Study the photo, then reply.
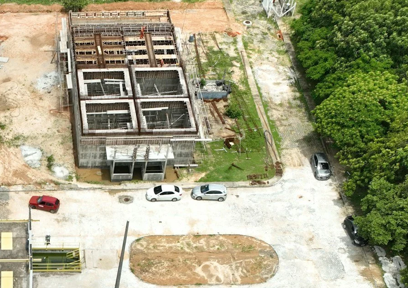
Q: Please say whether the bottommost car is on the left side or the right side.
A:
right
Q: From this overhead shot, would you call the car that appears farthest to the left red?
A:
Yes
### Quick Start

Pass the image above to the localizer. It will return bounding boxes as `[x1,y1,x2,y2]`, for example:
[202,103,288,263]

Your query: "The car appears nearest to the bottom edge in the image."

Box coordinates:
[343,213,370,244]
